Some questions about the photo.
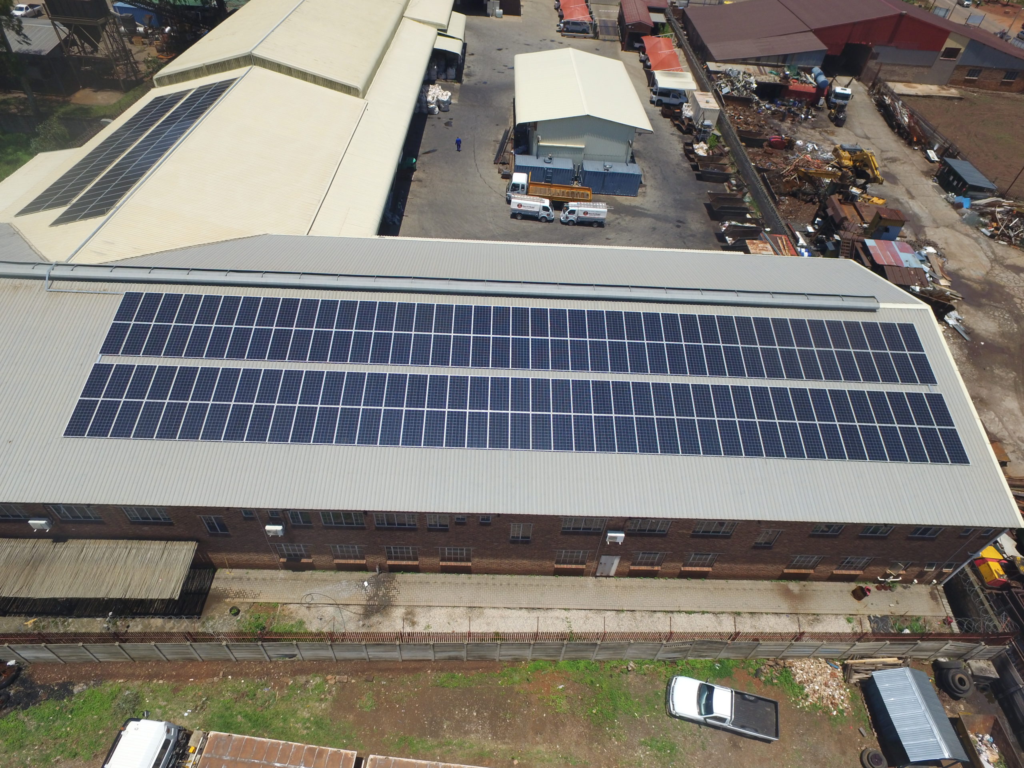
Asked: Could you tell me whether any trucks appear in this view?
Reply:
Yes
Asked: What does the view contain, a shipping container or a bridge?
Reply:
shipping container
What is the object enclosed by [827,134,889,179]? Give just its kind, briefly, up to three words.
work vehicle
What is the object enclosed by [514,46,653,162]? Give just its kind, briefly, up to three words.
building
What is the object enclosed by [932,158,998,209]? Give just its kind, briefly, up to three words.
shed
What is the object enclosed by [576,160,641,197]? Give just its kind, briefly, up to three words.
shipping container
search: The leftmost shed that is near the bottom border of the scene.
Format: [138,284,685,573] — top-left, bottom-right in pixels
[854,666,968,768]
